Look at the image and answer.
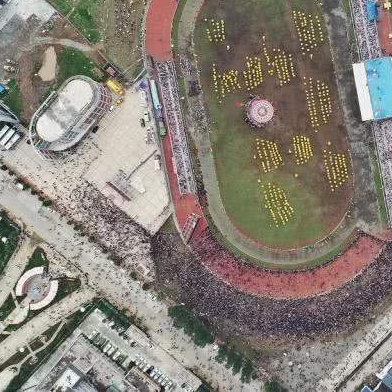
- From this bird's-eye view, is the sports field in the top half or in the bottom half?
top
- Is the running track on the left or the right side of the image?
right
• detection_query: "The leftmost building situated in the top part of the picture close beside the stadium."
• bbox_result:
[30,73,114,155]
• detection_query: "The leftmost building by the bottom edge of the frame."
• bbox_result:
[25,328,132,392]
